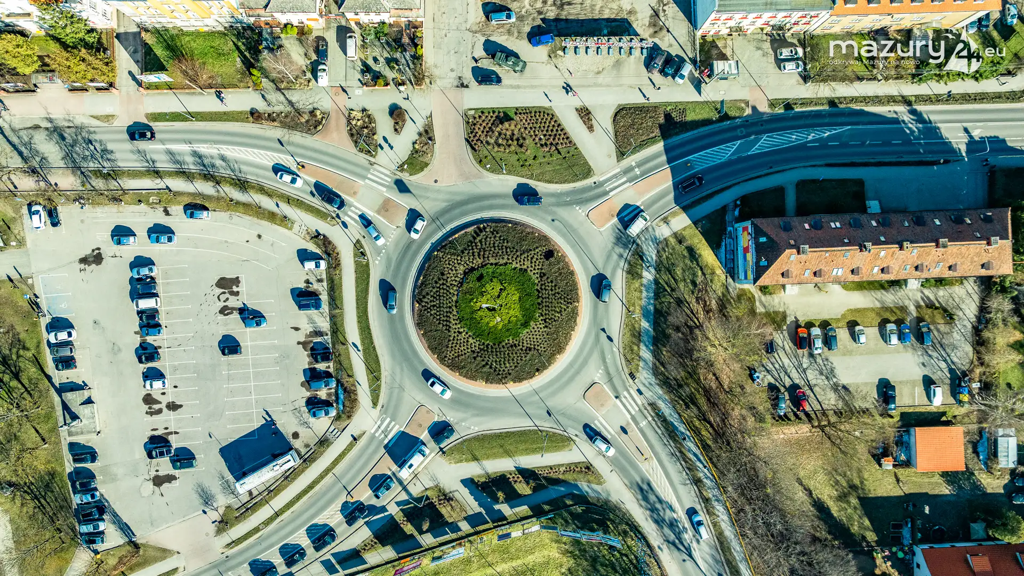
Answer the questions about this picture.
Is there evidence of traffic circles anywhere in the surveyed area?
Yes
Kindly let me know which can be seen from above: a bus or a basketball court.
bus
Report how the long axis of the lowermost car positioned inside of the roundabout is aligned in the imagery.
on a diagonal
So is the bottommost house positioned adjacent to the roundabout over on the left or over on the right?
right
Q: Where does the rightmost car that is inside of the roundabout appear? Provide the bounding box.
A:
[599,280,611,304]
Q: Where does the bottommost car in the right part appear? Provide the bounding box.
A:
[690,511,710,540]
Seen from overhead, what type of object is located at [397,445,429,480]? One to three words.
vehicle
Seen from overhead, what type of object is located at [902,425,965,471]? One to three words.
building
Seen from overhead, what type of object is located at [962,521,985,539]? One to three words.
gazebo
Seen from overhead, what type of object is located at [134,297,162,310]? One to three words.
vehicle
